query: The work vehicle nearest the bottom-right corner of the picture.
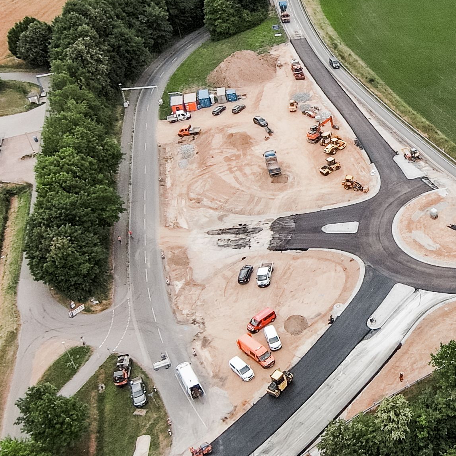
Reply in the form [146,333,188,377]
[263,362,297,397]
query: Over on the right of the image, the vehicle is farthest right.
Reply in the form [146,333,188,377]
[401,145,420,159]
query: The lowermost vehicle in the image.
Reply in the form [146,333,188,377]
[184,433,216,456]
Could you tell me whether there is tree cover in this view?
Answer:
Yes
